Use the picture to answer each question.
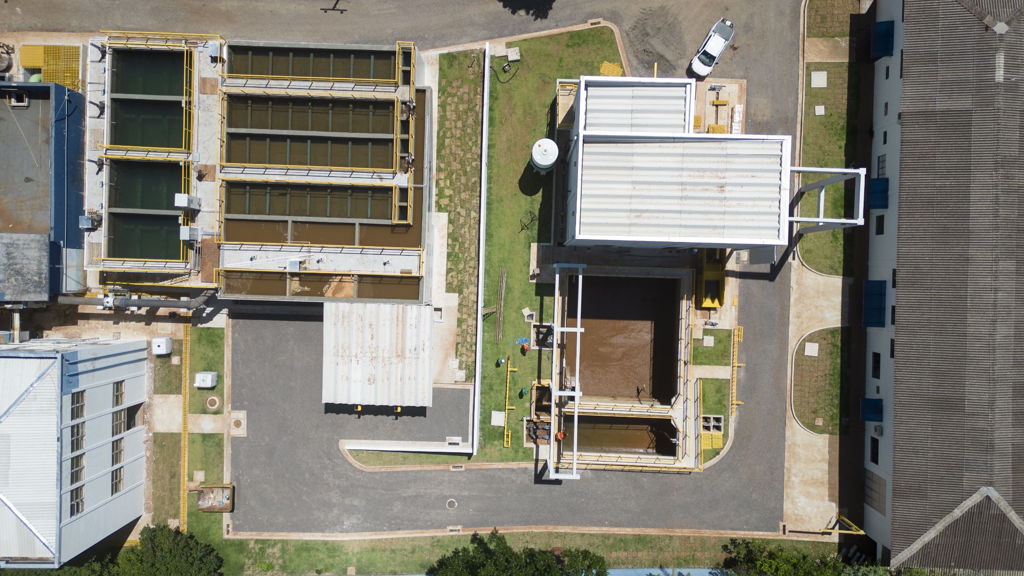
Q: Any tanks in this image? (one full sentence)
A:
Yes, a tank can be made out from above.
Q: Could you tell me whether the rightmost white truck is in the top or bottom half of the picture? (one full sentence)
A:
You can find the rightmost white truck in the top half.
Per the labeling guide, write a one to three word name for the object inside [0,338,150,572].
building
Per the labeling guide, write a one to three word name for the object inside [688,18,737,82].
truck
